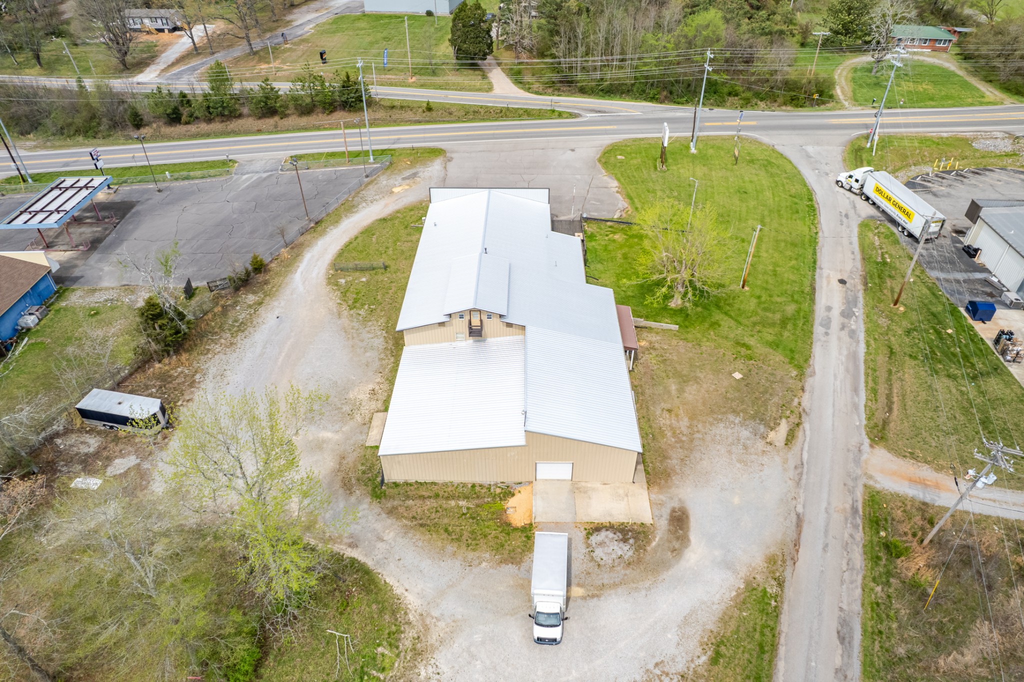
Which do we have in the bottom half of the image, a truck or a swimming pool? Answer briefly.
truck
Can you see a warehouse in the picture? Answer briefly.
Yes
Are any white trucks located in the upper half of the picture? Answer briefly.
Yes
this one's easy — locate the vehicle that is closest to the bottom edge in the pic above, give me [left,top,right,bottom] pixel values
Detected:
[526,531,568,650]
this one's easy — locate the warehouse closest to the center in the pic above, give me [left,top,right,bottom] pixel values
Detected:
[376,186,644,490]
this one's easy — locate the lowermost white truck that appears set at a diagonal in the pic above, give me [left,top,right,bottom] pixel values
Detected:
[837,171,947,246]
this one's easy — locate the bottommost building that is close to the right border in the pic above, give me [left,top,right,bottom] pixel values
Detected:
[957,198,1024,292]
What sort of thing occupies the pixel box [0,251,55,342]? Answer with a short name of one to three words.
building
